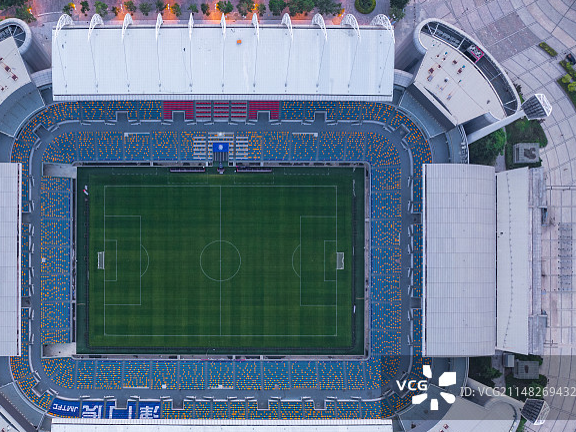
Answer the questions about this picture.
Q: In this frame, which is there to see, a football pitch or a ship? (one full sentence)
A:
I can see a football pitch in this picture.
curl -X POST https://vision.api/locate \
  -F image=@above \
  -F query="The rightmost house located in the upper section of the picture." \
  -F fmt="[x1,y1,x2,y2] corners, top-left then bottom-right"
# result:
[510,142,540,165]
